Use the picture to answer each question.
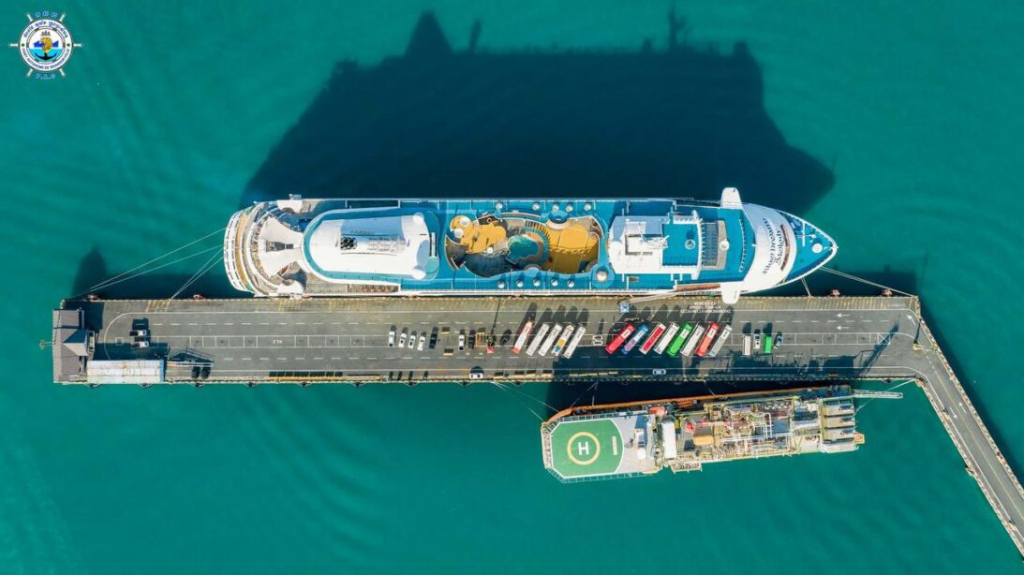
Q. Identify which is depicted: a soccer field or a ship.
ship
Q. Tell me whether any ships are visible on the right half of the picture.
Yes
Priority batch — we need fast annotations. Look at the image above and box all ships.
[225,190,844,303]
[542,383,904,483]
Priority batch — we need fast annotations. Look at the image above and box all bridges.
[915,356,1024,559]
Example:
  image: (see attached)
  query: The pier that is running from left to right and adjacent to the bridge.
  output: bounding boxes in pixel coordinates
[53,291,943,390]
